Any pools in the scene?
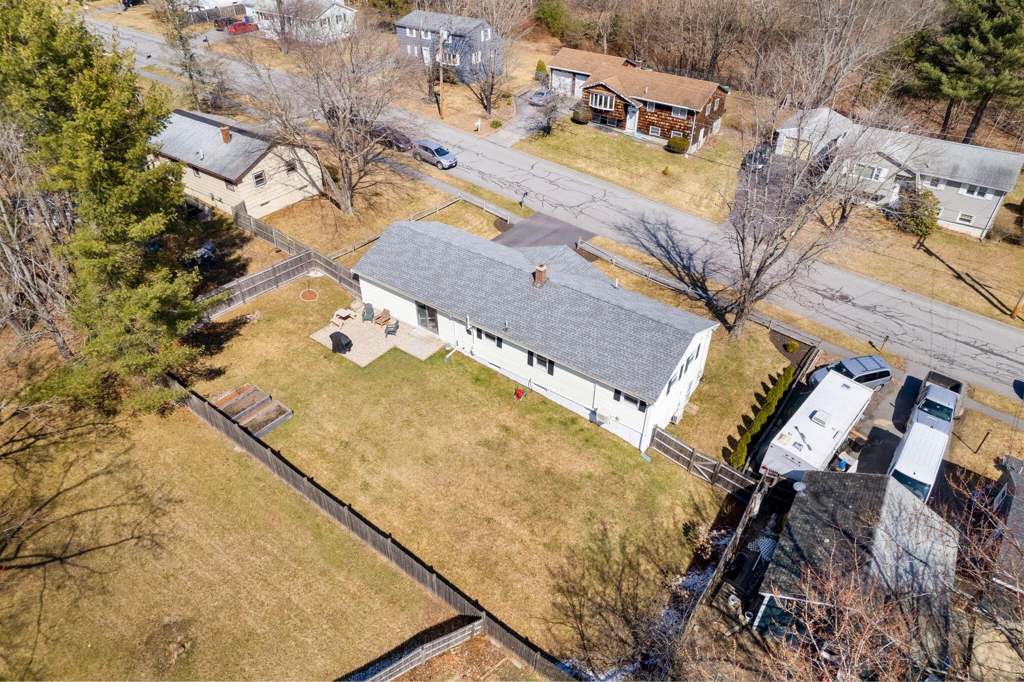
No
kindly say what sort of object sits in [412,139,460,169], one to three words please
car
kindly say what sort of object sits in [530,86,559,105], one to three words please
car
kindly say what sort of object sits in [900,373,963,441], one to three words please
truck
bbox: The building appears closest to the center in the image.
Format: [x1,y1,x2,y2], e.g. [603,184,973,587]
[349,221,721,450]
